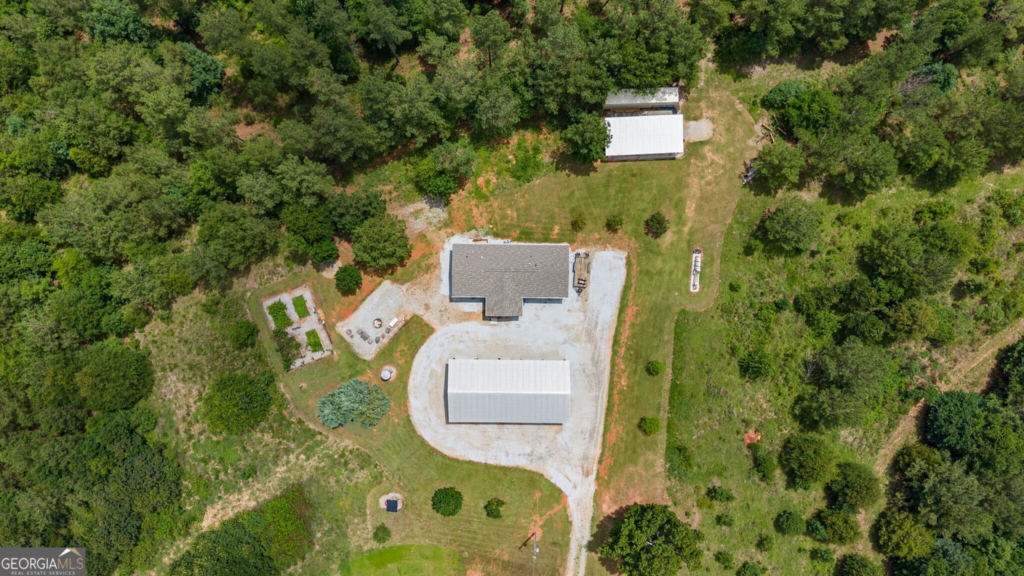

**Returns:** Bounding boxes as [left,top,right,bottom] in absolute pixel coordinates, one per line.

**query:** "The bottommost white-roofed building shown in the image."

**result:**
[447,356,572,425]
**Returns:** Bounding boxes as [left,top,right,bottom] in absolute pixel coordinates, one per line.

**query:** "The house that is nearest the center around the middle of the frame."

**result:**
[451,243,570,323]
